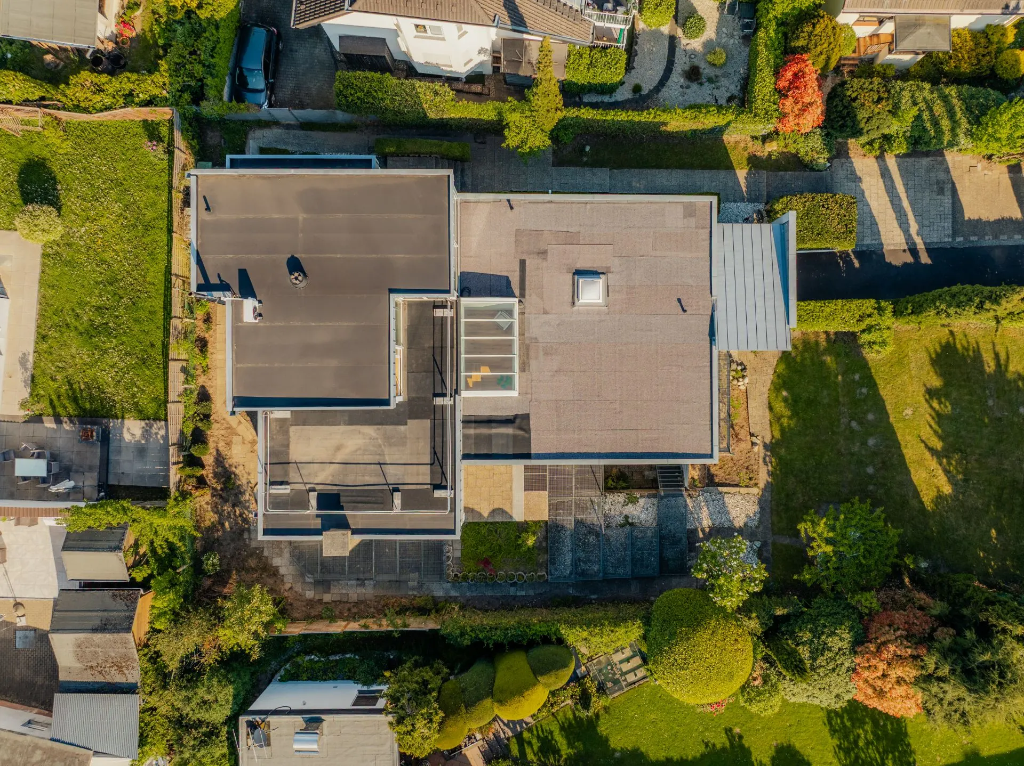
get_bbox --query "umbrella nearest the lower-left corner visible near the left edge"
[47,477,83,491]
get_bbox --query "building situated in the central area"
[186,155,718,539]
